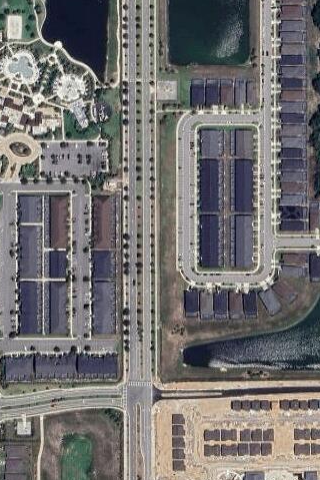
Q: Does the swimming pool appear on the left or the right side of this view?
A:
left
